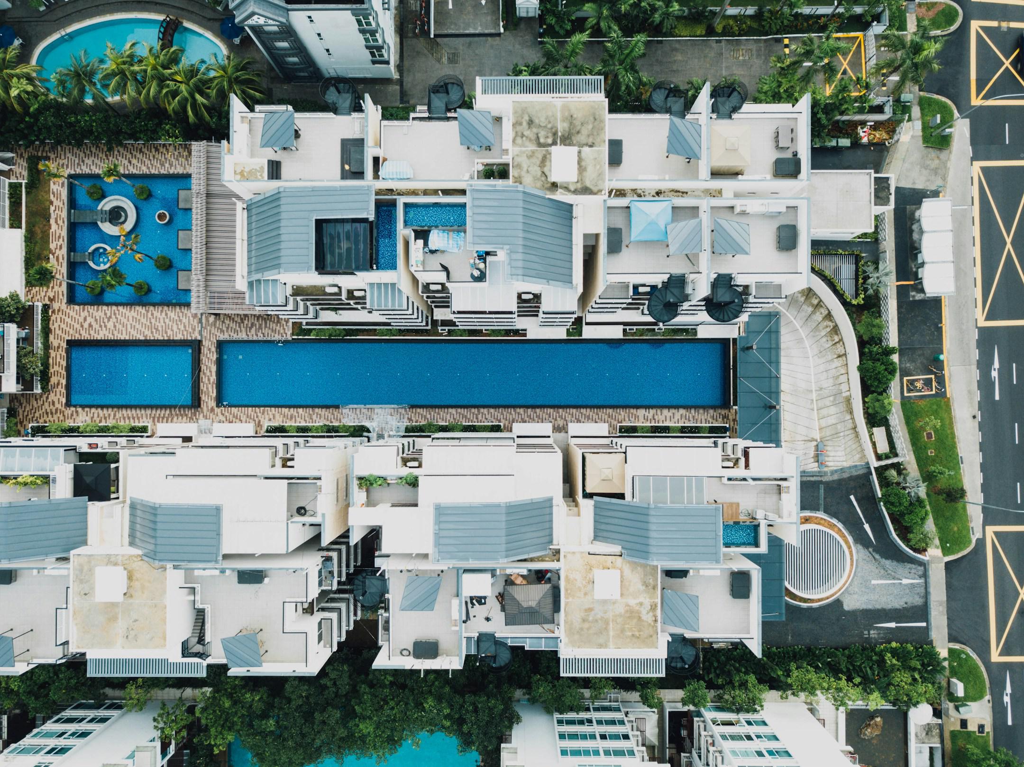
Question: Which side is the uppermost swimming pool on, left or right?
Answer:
left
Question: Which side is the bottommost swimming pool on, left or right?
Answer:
left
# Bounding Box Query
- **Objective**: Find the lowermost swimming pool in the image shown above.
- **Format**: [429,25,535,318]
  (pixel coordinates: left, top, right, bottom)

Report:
[223,729,485,767]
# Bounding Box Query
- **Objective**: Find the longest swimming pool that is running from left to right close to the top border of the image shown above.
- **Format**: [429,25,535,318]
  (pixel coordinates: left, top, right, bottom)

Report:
[31,13,229,98]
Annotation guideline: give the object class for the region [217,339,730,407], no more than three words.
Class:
swimming pool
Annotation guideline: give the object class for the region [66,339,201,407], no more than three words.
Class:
swimming pool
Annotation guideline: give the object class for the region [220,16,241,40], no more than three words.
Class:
umbrella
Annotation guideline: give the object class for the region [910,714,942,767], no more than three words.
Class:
shed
